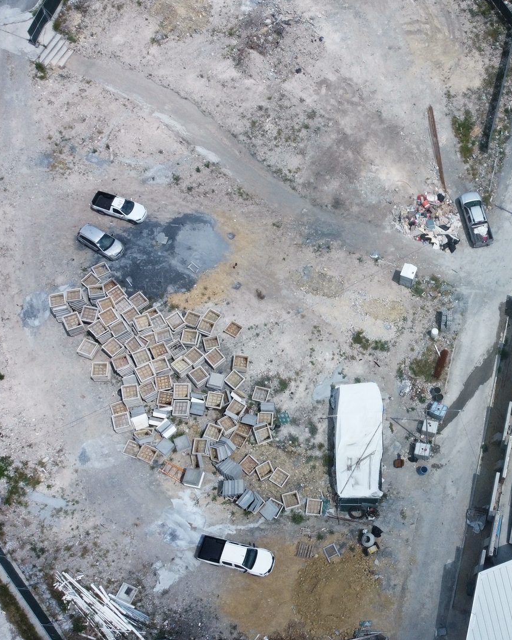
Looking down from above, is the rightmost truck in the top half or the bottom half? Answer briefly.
top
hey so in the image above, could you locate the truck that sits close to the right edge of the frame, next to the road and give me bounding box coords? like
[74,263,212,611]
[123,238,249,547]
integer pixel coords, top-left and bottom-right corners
[458,192,494,251]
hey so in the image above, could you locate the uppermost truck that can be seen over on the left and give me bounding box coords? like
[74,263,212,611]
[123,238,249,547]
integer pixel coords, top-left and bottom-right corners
[86,188,148,227]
